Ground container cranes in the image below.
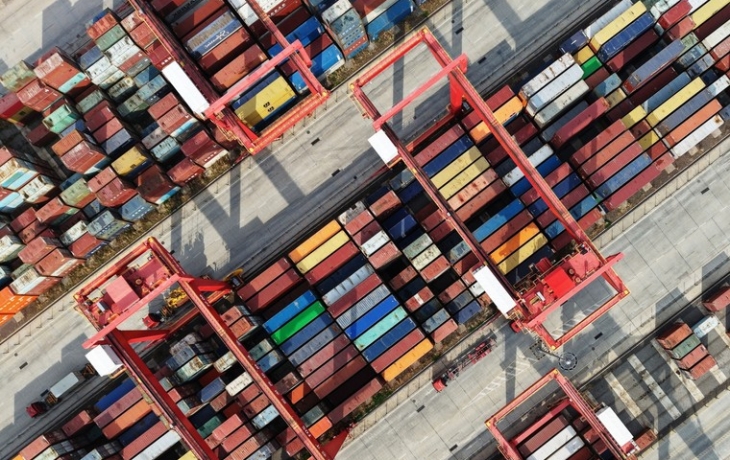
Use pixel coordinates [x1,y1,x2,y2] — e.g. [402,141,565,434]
[351,30,627,349]
[76,242,349,460]
[483,370,640,460]
[114,0,332,153]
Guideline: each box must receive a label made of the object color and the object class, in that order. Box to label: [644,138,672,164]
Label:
red shipping container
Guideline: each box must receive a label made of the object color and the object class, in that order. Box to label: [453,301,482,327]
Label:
blue shipping container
